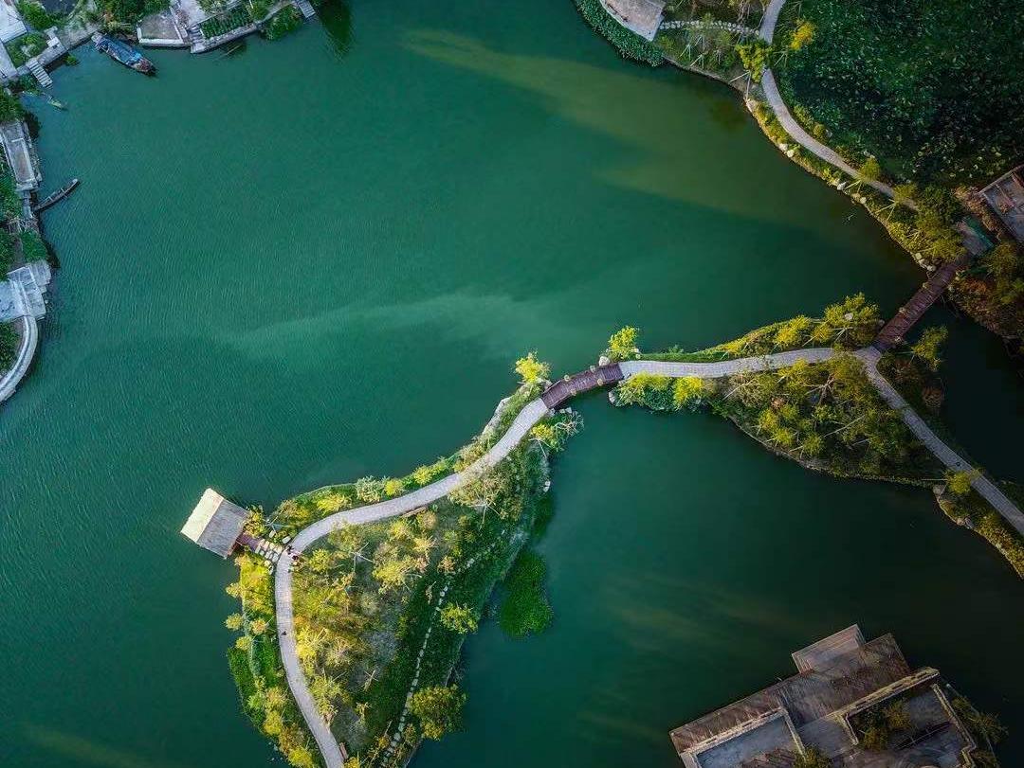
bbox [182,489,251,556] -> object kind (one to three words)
building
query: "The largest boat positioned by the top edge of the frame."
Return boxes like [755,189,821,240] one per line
[87,28,156,71]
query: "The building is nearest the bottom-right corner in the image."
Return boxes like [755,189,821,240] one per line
[668,623,976,768]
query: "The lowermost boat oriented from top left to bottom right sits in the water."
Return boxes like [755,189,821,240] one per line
[41,92,67,109]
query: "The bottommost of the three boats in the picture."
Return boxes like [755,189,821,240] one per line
[33,178,77,207]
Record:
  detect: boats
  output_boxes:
[41,92,67,109]
[33,178,77,207]
[87,28,156,71]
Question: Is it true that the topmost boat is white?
No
